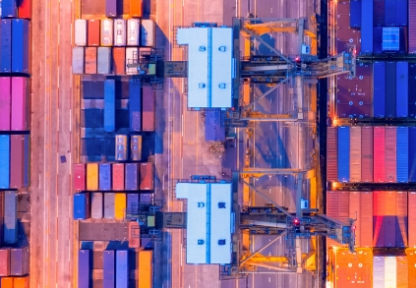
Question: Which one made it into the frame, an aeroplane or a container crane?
container crane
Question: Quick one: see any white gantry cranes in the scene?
No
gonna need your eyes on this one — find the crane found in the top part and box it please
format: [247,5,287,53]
[116,3,370,145]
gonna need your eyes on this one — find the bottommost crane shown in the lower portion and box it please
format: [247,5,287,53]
[116,144,370,285]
